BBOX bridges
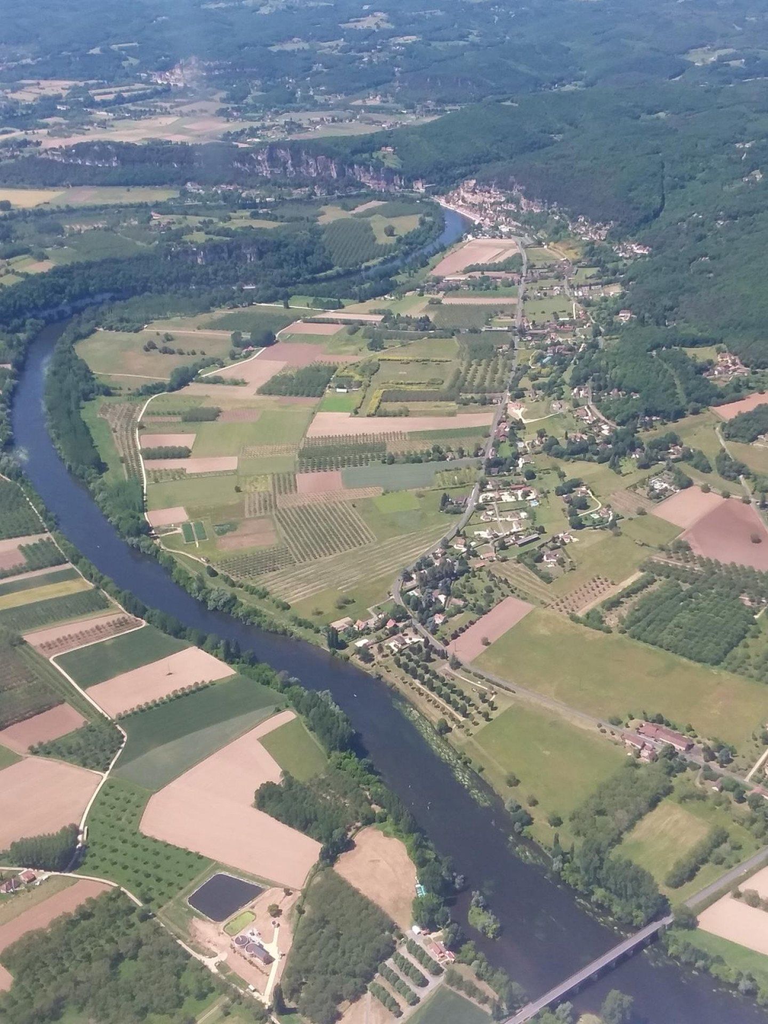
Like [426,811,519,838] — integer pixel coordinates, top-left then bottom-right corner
[503,910,680,1024]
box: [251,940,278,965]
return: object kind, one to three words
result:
building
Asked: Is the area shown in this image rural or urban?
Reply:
rural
